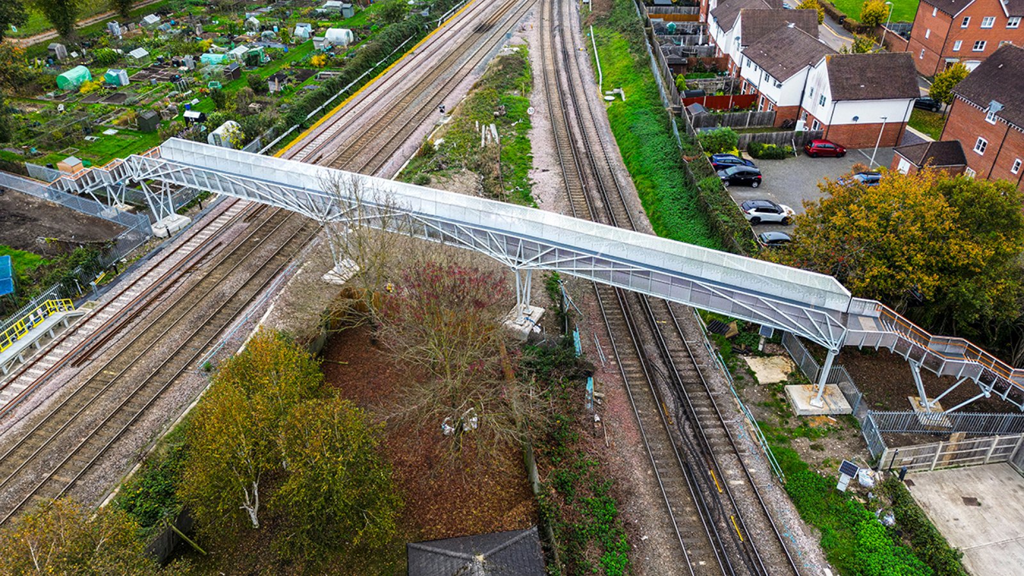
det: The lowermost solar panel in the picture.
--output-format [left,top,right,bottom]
[838,456,863,490]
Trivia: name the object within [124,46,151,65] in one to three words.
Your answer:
greenhouse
